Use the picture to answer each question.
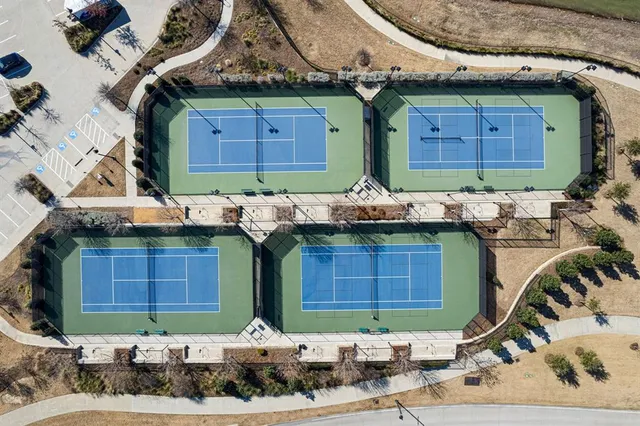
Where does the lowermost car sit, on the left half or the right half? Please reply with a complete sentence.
It is on the left.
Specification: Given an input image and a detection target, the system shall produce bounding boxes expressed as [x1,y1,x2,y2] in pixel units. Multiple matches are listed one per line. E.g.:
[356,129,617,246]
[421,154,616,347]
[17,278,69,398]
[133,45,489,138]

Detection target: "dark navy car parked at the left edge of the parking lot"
[0,56,28,76]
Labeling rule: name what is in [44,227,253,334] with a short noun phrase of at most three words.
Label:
tennis court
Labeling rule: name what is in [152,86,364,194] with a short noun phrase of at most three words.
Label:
tennis court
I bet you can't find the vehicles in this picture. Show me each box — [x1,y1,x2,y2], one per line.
[0,56,28,76]
[67,0,113,22]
